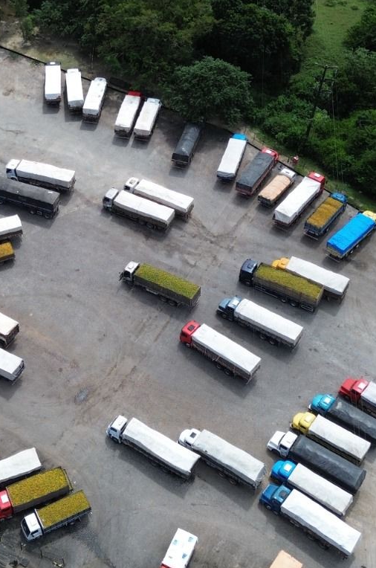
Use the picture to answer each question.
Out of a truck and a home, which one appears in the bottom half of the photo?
truck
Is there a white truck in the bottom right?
Yes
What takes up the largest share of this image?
paved ground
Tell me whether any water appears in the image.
No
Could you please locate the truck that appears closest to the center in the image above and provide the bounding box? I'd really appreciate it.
[117,260,198,311]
